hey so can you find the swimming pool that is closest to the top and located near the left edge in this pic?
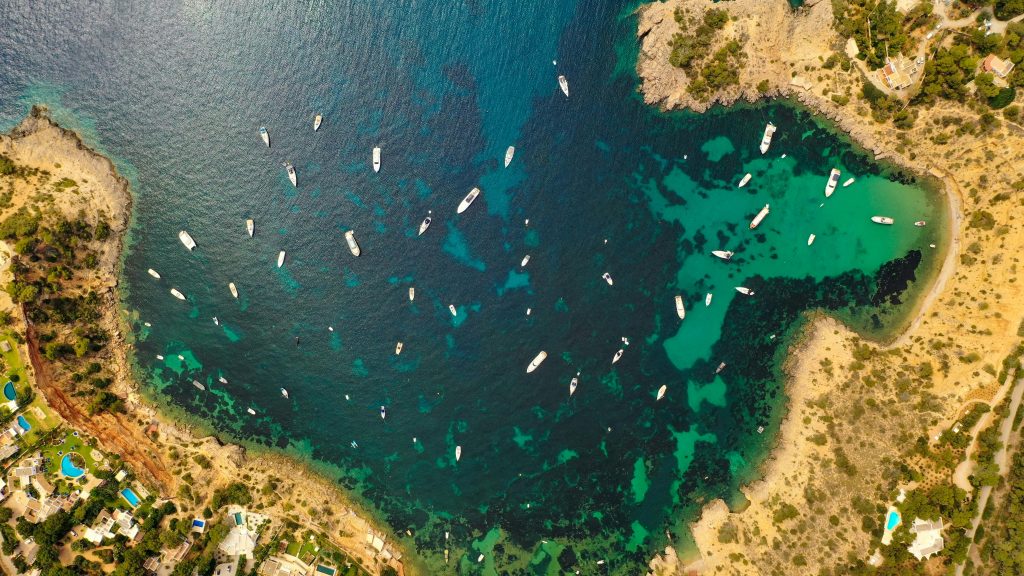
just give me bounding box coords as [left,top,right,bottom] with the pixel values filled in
[3,382,18,401]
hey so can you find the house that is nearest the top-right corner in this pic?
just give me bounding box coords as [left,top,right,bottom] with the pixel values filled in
[981,54,1015,76]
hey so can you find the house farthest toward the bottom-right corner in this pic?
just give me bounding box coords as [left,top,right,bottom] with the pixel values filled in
[907,517,943,560]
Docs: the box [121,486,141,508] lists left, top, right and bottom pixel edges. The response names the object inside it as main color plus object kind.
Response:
blue swimming pool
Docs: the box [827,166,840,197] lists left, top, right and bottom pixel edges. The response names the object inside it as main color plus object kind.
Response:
white boat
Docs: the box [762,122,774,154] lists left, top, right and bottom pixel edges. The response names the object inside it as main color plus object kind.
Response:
white boat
